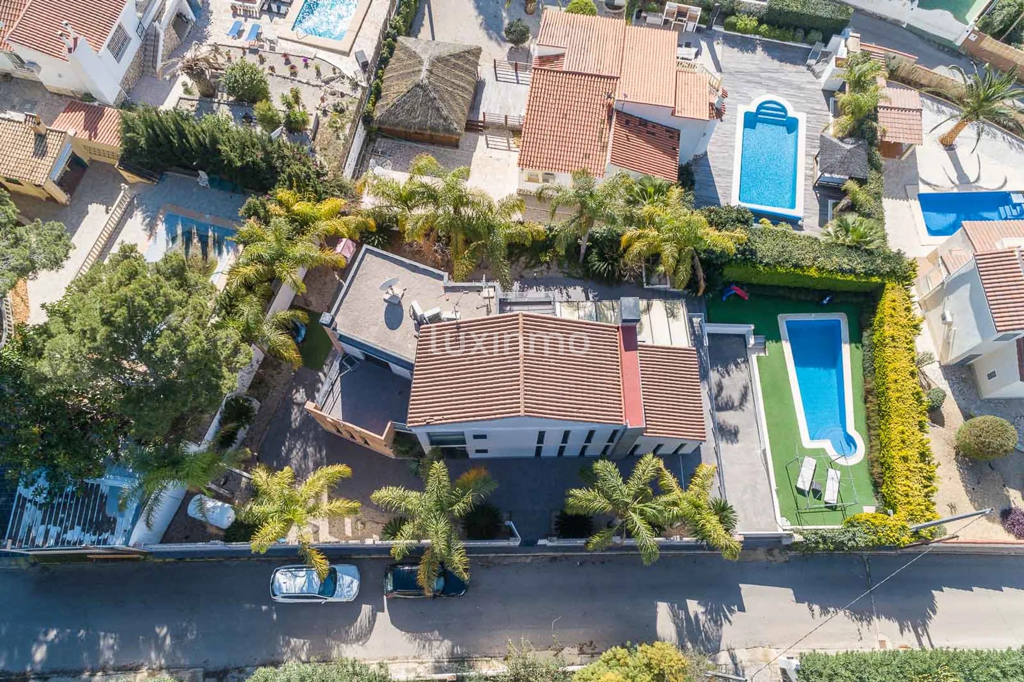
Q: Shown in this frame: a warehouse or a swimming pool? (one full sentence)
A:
I can see a swimming pool in this picture.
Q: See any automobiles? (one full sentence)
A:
Yes, an automobile appears in the view.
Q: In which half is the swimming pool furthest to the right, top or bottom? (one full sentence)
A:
It is in the top half that the swimming pool furthest to the right appears.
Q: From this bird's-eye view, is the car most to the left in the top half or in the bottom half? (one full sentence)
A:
Seen from above, the car most to the left lies in the bottom half of the view.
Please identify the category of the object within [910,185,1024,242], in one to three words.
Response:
swimming pool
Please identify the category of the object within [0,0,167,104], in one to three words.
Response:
house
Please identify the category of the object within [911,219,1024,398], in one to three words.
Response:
house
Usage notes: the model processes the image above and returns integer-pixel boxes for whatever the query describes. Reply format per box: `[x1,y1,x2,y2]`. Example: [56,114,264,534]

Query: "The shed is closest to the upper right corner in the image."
[867,86,924,163]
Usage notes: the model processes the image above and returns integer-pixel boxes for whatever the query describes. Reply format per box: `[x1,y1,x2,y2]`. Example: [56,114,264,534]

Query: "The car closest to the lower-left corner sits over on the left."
[269,561,361,608]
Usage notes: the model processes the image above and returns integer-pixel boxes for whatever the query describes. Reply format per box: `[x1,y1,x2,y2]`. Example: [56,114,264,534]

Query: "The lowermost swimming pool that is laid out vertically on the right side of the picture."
[779,314,864,464]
